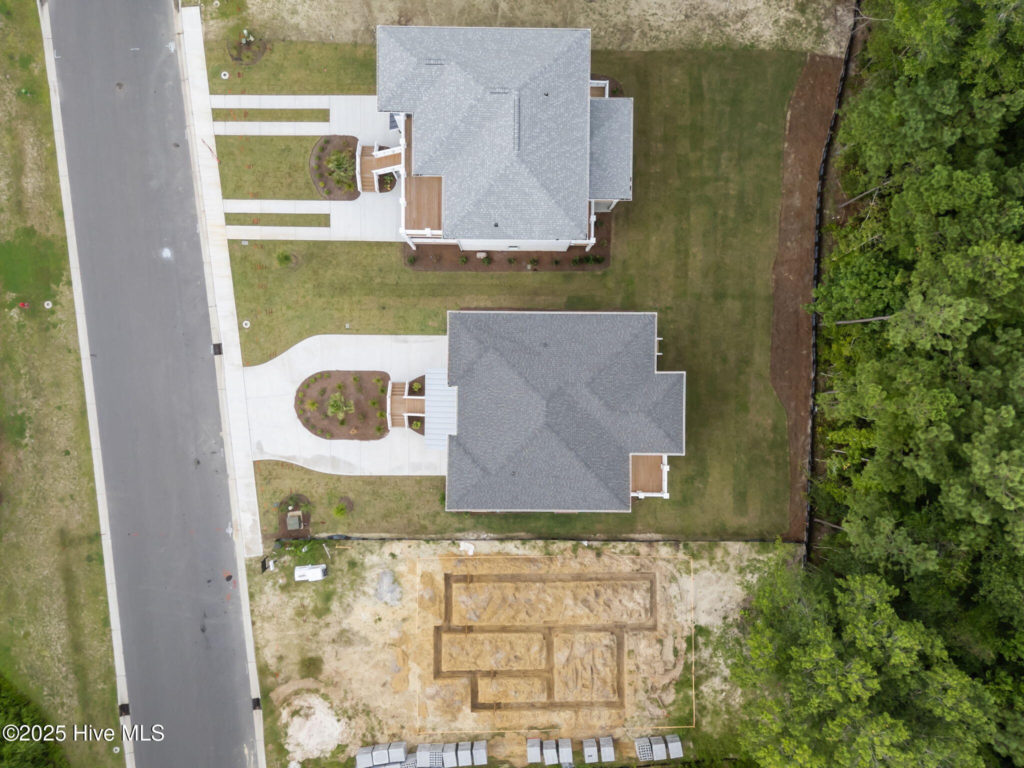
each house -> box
[357,26,633,253]
[387,311,685,512]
